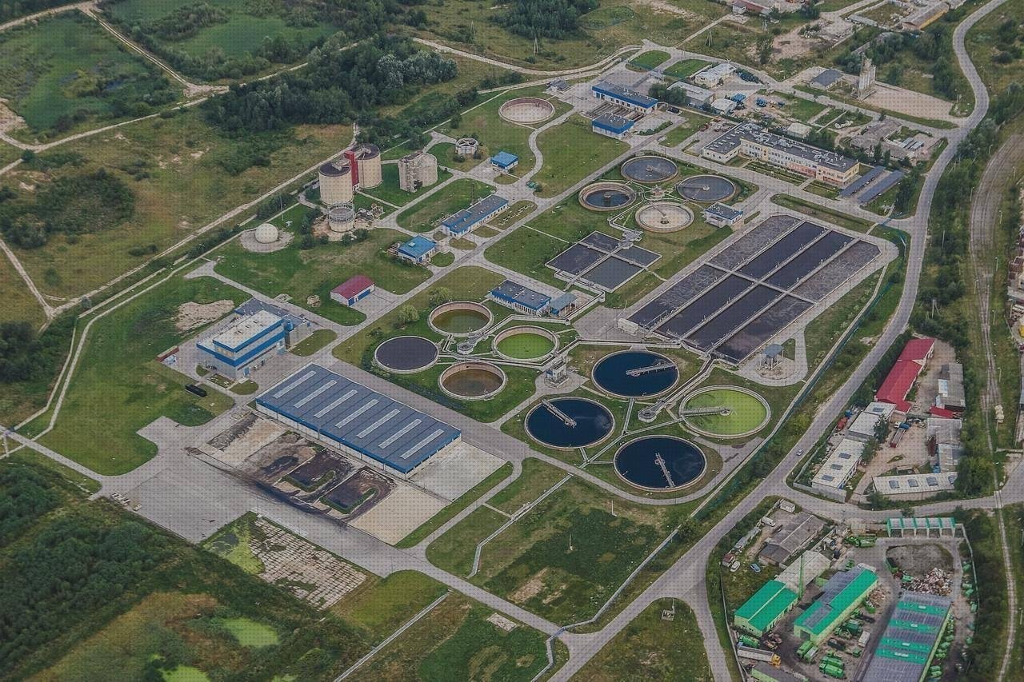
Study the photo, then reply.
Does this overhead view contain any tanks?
Yes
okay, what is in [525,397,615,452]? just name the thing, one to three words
storage tank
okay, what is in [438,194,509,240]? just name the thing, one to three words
building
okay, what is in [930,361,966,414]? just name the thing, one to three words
shed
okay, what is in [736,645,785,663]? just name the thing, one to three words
vehicle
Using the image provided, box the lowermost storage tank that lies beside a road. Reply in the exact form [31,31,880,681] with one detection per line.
[613,435,707,493]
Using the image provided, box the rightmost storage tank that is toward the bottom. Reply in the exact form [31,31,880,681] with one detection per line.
[679,386,772,441]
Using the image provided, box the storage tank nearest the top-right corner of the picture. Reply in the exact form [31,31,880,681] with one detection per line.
[676,175,735,204]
